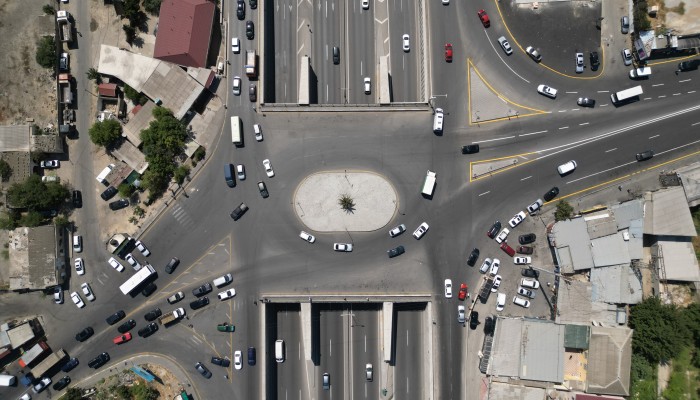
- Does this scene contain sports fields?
No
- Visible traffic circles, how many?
1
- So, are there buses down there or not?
Yes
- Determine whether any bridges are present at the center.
Yes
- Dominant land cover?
paved ground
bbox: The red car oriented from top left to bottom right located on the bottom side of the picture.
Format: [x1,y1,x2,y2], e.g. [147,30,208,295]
[500,242,515,256]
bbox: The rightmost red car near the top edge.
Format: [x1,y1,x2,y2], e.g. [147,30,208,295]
[477,10,490,27]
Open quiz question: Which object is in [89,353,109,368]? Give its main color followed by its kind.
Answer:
black car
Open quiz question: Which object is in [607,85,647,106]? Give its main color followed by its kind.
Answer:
white vehicle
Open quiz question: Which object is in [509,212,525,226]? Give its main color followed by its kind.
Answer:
white car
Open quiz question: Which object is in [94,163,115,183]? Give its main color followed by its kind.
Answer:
white vehicle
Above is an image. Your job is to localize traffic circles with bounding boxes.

[294,171,399,233]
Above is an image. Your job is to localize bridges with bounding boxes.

[260,103,433,303]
